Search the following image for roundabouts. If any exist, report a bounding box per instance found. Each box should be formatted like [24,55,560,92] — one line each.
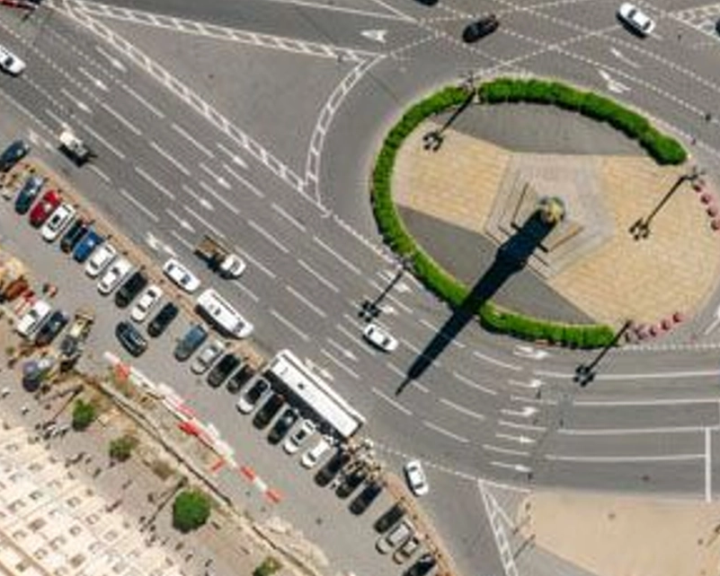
[367,71,720,353]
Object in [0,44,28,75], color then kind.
white car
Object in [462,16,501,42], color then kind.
black car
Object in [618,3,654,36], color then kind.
white car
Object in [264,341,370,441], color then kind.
white vehicle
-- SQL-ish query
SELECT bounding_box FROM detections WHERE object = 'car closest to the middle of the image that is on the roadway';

[362,322,400,351]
